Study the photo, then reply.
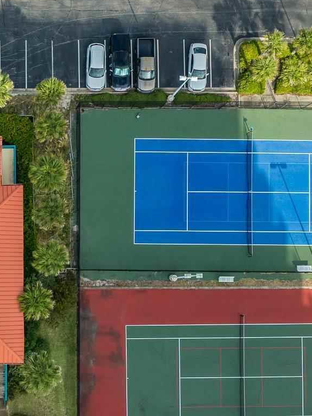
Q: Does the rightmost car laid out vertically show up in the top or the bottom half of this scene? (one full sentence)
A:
Seen from above, the rightmost car laid out vertically lies in the top half of the view.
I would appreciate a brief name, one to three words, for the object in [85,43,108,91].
car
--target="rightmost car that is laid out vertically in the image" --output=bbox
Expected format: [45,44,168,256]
[187,43,209,92]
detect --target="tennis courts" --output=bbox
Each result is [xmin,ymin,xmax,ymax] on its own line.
[82,107,312,281]
[82,288,312,416]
